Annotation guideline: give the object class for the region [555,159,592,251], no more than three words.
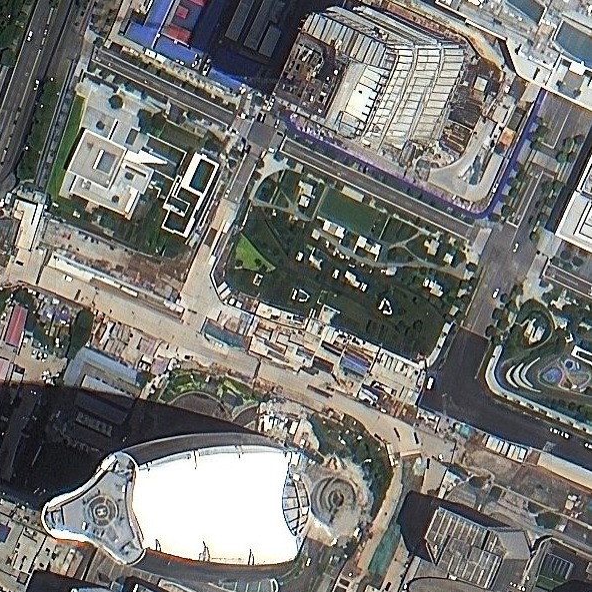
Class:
building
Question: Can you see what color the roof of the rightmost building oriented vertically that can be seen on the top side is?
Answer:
white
